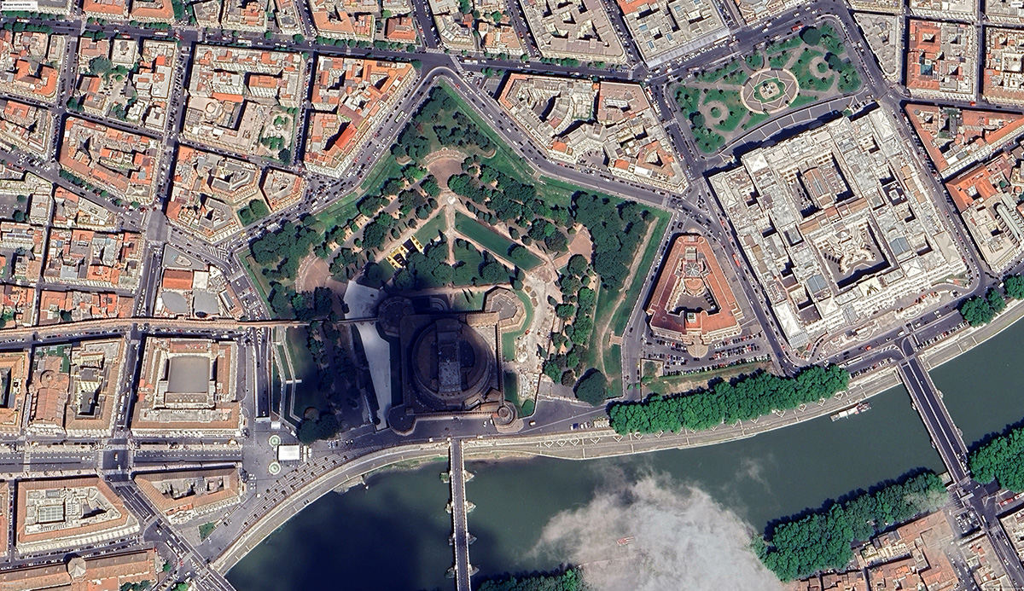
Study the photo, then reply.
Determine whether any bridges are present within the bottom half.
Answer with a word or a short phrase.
Yes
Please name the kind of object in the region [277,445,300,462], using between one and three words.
tent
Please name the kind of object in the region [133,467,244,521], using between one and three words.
building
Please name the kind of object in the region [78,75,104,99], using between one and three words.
building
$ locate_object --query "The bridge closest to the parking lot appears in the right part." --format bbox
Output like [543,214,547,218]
[895,357,972,487]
